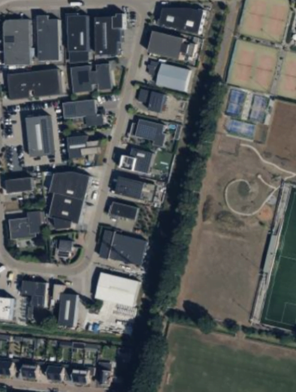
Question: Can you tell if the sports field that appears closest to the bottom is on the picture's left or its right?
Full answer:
The sports field that appears closest to the bottom appears in the right half of the scene.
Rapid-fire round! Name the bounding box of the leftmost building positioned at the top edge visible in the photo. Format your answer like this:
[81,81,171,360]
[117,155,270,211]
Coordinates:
[3,19,32,65]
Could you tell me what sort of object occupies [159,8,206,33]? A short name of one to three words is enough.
building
